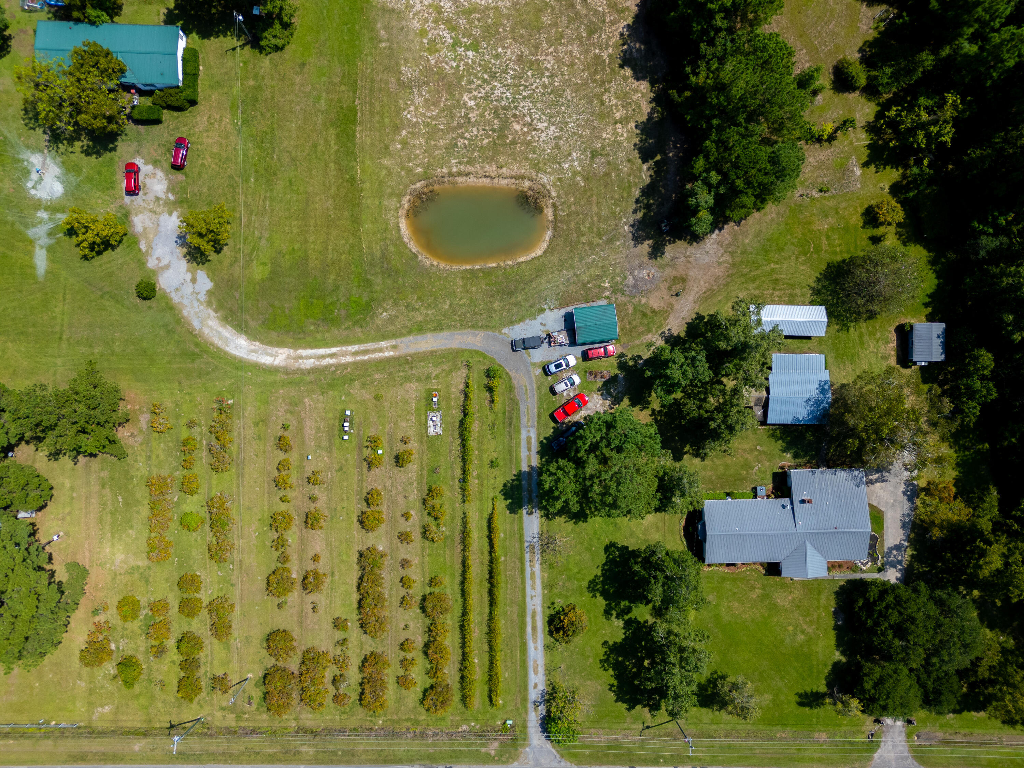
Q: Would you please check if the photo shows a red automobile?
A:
Yes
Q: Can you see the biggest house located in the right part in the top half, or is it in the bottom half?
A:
bottom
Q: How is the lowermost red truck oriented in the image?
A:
on a diagonal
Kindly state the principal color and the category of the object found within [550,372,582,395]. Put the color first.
white car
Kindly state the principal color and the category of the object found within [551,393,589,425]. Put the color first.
red truck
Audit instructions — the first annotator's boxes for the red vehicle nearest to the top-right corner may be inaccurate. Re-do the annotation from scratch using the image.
[583,344,616,362]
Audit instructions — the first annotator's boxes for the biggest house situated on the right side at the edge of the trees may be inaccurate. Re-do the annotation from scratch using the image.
[696,468,872,578]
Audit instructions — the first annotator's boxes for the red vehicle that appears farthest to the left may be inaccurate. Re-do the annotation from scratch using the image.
[124,166,142,197]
